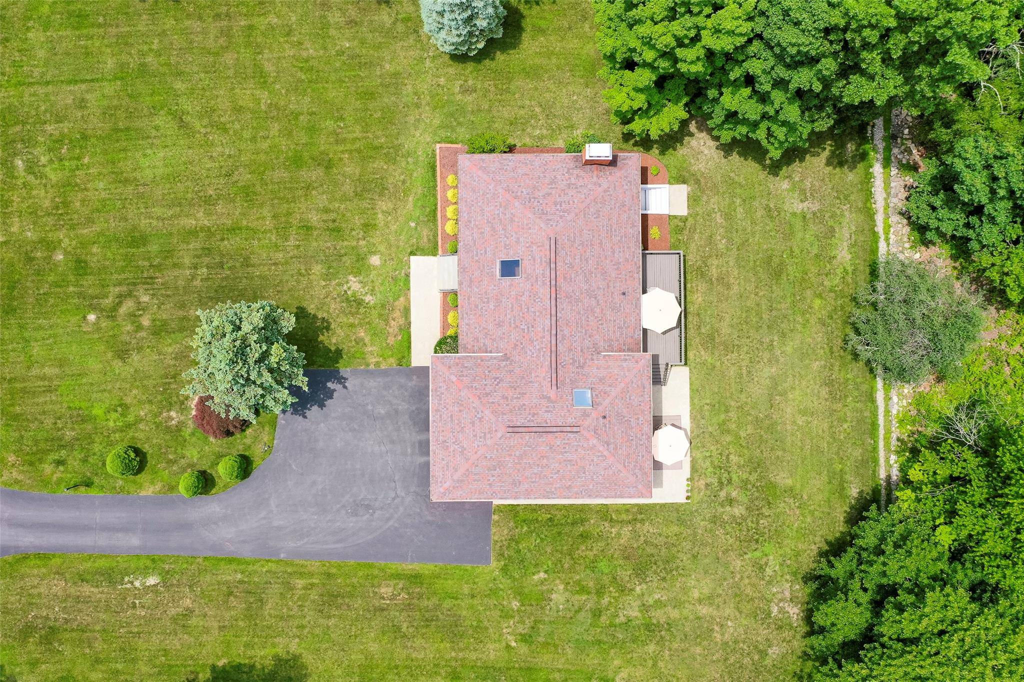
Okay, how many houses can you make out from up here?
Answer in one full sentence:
The photo contains exactly 1 house.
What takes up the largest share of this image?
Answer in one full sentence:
The scene is dominated by grass.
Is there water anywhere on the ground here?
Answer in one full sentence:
No, the picture contains no water.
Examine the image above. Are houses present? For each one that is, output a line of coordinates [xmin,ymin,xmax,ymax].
[429,143,653,502]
